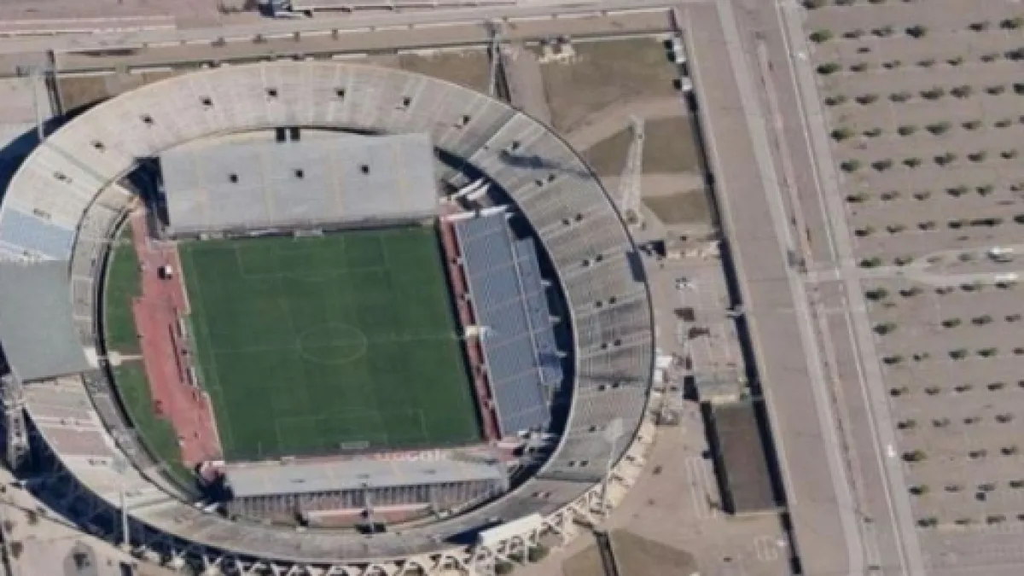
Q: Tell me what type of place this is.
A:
sports ground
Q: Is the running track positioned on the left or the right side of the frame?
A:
left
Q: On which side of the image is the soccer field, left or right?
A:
left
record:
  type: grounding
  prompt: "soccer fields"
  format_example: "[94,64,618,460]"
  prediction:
[179,226,489,461]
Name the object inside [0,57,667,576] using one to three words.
stadium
